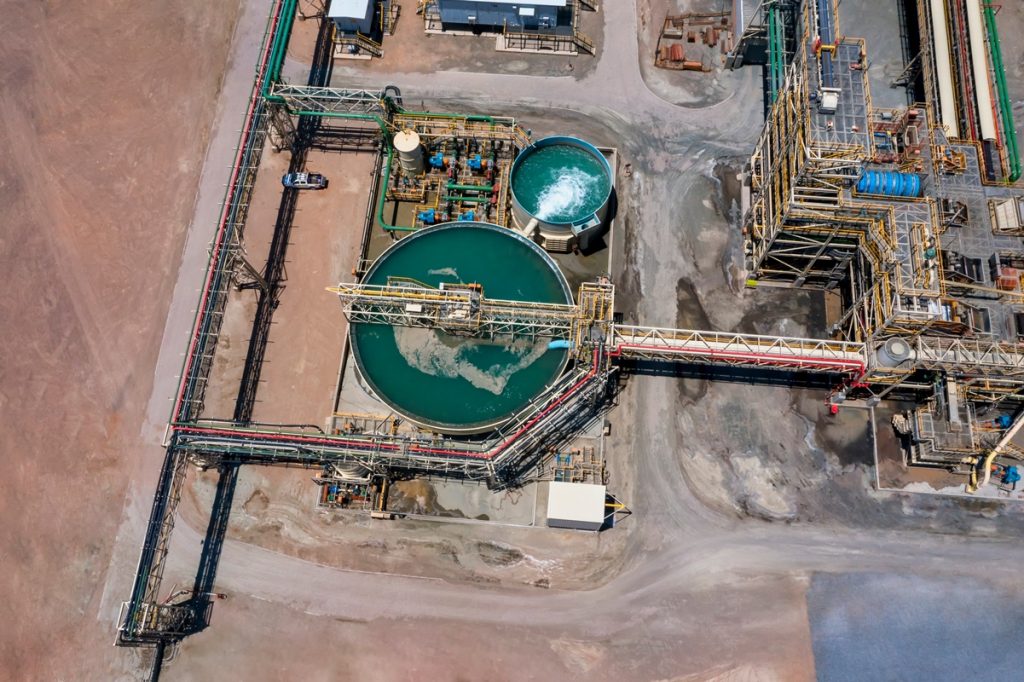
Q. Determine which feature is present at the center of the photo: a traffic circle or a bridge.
bridge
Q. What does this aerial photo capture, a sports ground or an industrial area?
industrial area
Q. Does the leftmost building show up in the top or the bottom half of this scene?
top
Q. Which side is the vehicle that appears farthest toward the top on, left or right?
left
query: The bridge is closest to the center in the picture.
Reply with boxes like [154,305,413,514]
[324,274,577,341]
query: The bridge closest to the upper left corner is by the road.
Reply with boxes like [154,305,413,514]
[271,85,404,163]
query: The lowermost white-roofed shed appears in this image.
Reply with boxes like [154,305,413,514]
[542,481,625,536]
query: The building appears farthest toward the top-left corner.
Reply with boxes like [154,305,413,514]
[326,0,381,60]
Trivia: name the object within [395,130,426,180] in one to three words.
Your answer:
storage tank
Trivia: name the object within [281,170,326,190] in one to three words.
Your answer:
vehicle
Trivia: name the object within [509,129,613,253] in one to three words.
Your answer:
water tank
